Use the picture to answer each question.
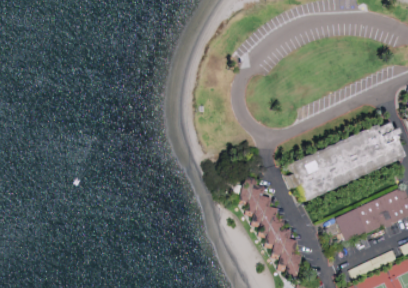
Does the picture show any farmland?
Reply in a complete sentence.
No, the picture contains no farmland.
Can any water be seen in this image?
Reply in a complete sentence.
Yes, water can be seen from above here.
